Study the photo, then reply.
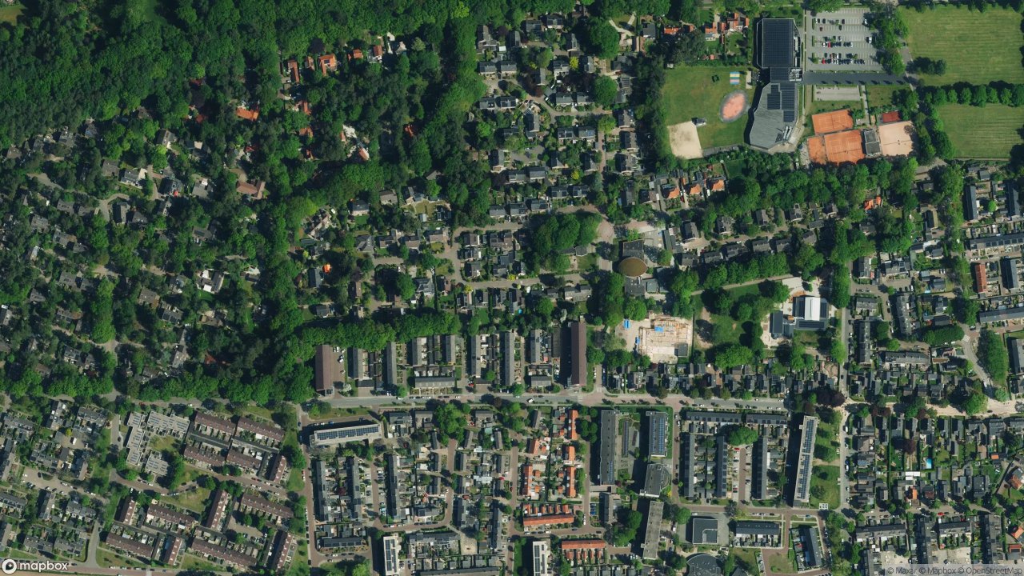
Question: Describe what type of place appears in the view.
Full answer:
This looks like a residential area.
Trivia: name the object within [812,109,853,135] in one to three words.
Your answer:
tennis court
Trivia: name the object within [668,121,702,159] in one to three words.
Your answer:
sports field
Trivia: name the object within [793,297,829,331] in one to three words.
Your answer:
building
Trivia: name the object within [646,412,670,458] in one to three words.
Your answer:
building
